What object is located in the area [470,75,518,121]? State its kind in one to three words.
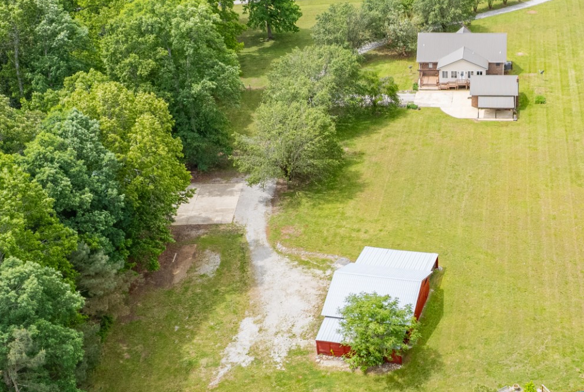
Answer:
shed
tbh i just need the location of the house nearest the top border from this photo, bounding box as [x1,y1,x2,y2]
[414,26,506,91]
